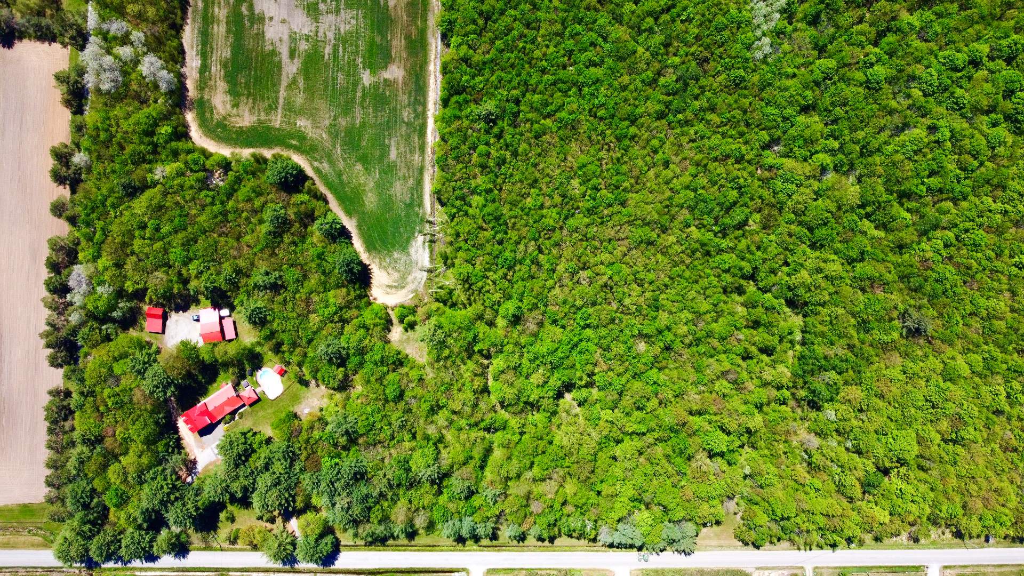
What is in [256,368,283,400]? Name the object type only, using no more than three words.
swimming pool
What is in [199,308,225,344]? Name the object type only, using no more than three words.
barn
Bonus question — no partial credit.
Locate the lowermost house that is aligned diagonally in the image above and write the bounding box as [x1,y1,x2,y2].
[181,384,244,433]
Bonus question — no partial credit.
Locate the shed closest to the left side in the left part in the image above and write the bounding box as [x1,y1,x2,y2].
[146,307,167,333]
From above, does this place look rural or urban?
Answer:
rural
